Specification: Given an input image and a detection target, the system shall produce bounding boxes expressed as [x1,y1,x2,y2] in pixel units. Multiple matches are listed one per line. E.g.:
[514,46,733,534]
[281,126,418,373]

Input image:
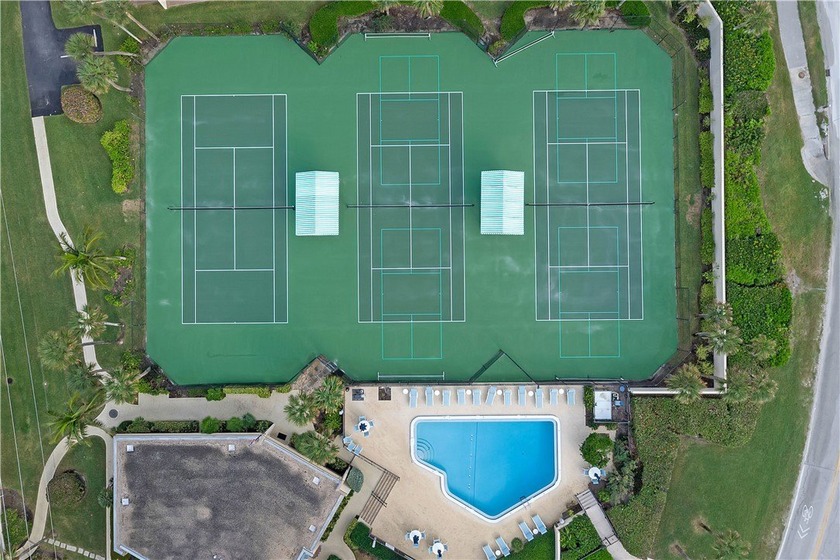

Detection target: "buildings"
[113,433,345,560]
[590,388,611,419]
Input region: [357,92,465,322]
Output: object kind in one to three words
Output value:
tennis court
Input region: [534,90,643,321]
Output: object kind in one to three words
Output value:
tennis court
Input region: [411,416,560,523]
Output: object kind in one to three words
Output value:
swimming pool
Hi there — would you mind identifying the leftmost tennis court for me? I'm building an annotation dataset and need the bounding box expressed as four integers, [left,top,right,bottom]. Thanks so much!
[181,94,288,324]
